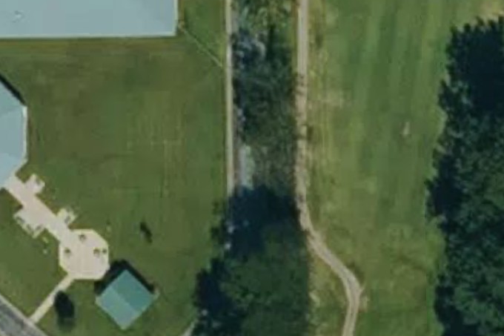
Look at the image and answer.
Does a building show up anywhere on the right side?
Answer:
No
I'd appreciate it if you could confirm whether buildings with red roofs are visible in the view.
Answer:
No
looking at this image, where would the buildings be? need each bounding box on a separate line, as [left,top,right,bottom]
[0,0,176,36]
[0,79,27,189]
[96,269,156,329]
